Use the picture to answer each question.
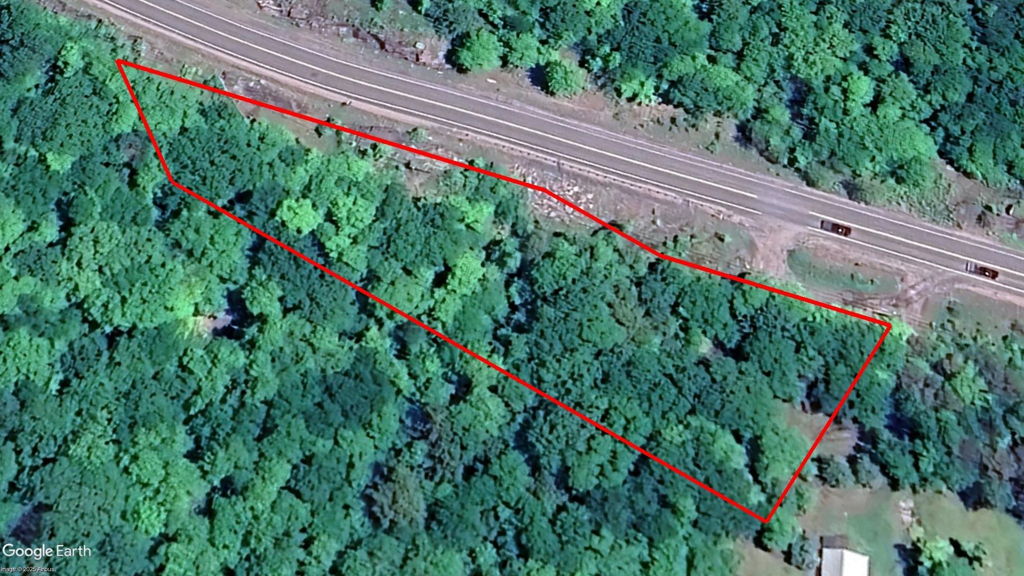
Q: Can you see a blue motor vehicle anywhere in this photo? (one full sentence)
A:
No, there appears to be no blue motor vehicle in this shot.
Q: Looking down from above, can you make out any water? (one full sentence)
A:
No, there is no water in the image.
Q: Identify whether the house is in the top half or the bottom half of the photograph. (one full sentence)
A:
The house is in the bottom half of the image.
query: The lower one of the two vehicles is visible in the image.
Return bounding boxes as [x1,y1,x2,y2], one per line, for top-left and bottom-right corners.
[966,262,999,280]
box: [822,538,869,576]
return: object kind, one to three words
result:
house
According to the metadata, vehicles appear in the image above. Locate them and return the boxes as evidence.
[820,220,852,237]
[966,262,999,280]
